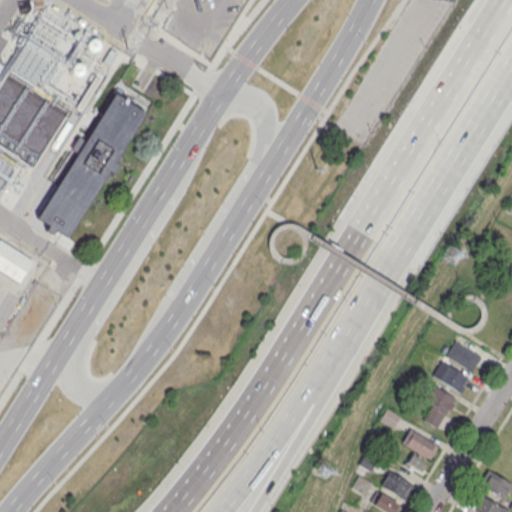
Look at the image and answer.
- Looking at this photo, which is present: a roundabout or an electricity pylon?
electricity pylon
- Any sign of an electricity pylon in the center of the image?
No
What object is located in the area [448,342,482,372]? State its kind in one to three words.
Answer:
house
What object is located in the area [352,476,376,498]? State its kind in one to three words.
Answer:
building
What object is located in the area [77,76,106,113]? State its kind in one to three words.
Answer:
shed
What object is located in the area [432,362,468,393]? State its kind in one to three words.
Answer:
house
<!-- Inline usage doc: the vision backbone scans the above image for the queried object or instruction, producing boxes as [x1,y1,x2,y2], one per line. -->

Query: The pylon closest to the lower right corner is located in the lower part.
[314,460,337,481]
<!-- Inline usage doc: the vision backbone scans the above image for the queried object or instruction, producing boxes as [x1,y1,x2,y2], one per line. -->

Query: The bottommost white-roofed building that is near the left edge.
[0,242,38,290]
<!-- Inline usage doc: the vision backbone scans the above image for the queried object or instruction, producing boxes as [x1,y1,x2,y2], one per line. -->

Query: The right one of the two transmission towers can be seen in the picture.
[446,246,470,266]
